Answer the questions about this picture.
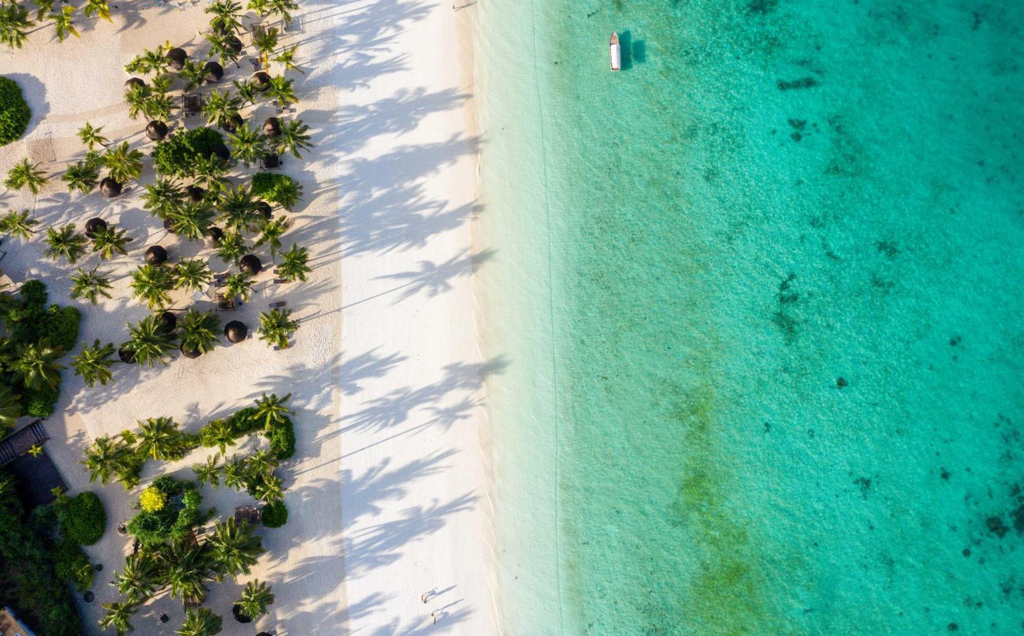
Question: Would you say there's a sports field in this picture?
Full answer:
No, I find no sports field anywhere in the image.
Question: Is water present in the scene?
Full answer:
Yes, water shows up in the scene.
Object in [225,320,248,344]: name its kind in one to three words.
umbrella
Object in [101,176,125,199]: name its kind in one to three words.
umbrella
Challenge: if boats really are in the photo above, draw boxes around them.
[609,32,621,72]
